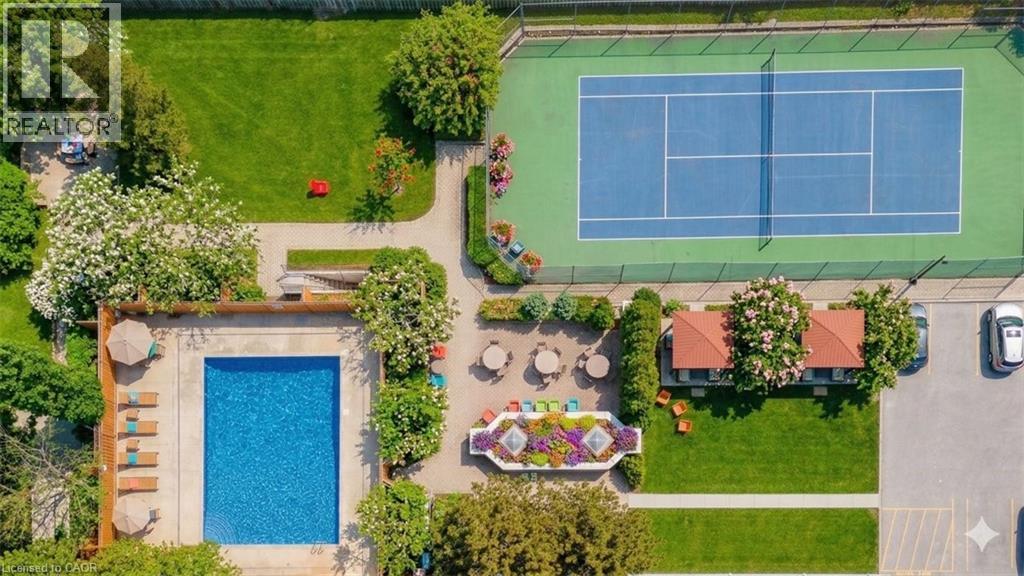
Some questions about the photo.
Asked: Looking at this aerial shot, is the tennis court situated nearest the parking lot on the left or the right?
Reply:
right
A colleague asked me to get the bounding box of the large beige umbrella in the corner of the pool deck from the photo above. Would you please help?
[107,318,156,367]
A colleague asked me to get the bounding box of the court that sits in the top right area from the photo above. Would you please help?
[489,30,1024,284]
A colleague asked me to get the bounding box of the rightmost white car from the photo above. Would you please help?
[989,302,1024,374]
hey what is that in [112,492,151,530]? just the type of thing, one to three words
umbrella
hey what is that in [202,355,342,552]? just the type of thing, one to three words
swimming pool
